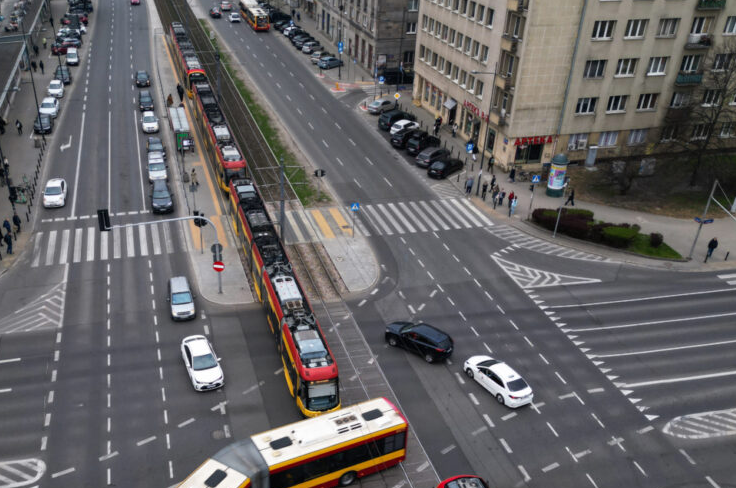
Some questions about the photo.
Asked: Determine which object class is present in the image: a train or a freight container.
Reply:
train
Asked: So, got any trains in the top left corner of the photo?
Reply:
Yes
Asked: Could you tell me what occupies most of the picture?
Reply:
paved ground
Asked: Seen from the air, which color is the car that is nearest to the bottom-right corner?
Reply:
white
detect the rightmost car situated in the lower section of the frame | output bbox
[459,359,535,406]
